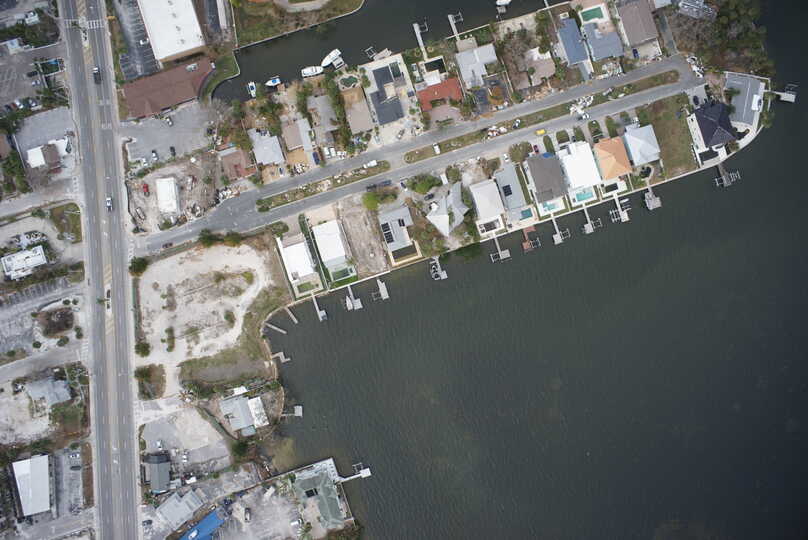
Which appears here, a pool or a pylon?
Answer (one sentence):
There is a pool in the scene.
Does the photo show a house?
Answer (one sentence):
Yes, the photo shows a house.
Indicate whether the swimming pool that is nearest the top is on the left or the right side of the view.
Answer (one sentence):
You can find the swimming pool that is nearest the top on the right side of the picture.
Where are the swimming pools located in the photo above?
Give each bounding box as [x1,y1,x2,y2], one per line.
[389,61,403,78]
[297,281,316,294]
[520,208,533,220]
[38,58,61,76]
[575,190,595,201]
[604,182,619,193]
[541,201,560,212]
[698,149,720,162]
[640,167,653,178]
[578,4,608,24]
[481,217,503,233]
[331,267,354,281]
[342,76,358,87]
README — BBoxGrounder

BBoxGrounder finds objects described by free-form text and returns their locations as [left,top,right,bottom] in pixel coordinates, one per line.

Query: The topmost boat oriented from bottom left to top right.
[323,48,342,66]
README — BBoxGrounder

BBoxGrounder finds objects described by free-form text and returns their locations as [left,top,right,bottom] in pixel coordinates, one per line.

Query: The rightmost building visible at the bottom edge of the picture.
[294,474,344,528]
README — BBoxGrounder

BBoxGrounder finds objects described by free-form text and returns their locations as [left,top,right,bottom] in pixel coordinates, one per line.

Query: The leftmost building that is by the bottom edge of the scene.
[12,453,54,516]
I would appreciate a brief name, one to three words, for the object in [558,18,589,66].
house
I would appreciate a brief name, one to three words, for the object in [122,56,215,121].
building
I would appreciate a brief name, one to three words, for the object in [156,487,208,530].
building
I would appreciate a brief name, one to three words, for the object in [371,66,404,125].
house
